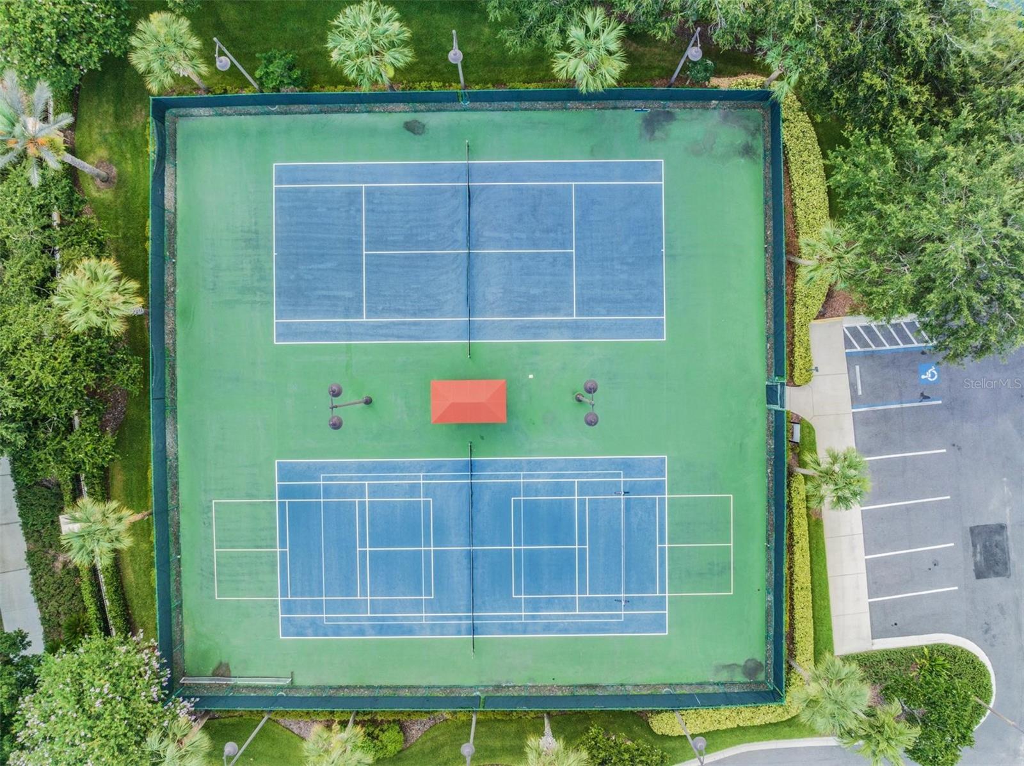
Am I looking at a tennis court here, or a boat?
tennis court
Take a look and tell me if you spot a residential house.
No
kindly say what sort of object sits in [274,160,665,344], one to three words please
tennis court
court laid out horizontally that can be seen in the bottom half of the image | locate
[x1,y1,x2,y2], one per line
[213,456,733,638]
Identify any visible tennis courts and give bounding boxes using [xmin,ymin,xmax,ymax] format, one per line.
[213,456,733,638]
[274,160,665,344]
